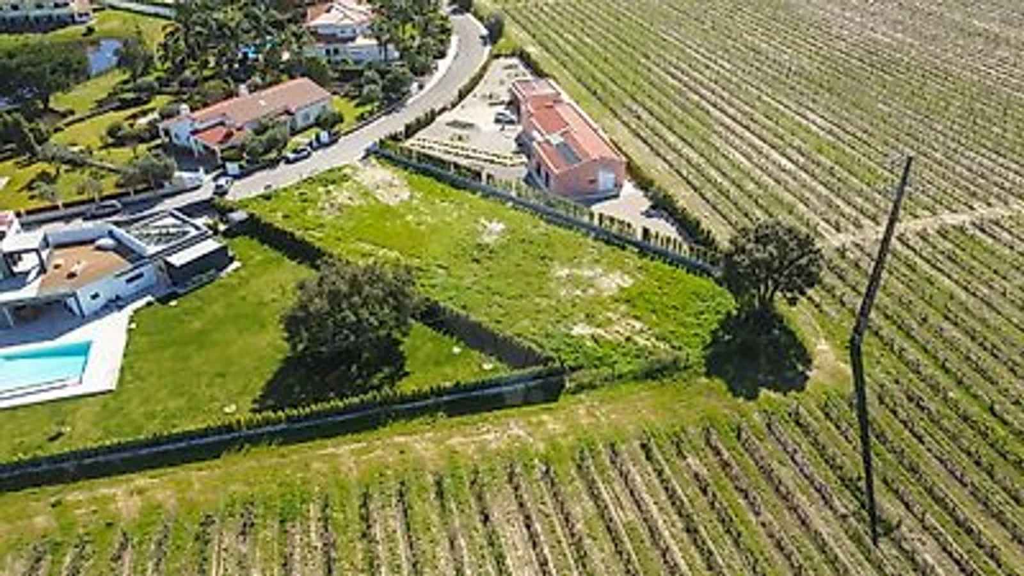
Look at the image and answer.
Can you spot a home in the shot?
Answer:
Yes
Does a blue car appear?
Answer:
No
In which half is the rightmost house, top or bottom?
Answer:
top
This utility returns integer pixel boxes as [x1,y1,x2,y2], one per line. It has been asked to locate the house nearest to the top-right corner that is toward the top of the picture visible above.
[504,64,626,199]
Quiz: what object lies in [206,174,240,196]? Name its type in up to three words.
car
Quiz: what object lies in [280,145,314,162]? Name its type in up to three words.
car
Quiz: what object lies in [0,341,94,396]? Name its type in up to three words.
swimming pool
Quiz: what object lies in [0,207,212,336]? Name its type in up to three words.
house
